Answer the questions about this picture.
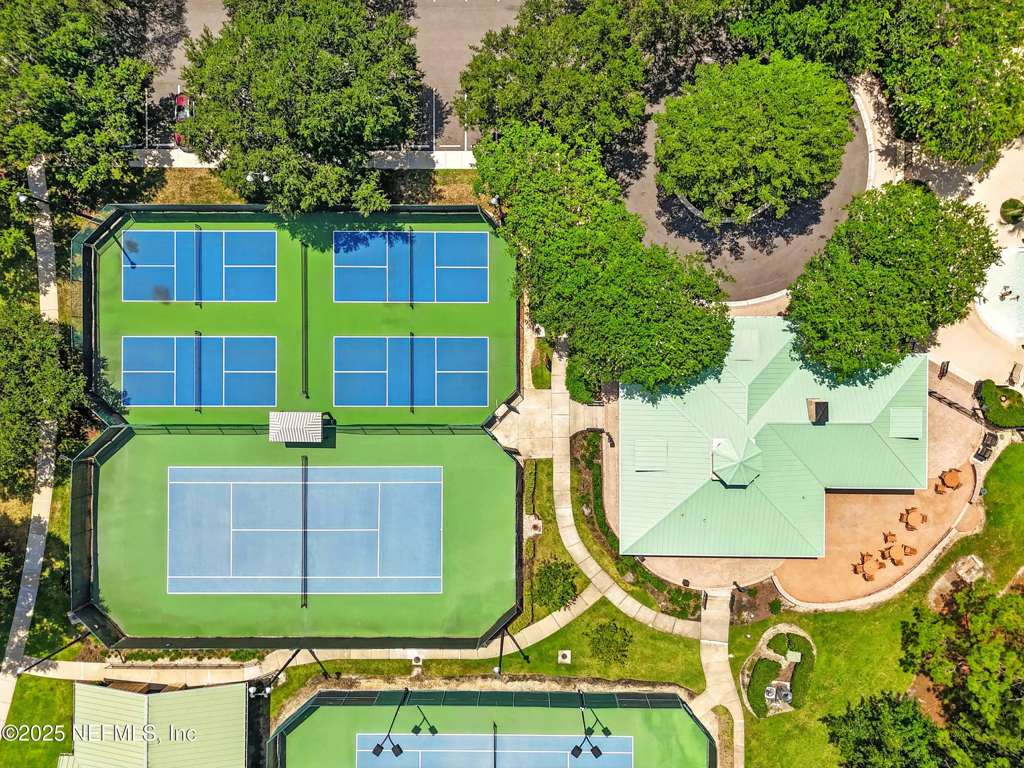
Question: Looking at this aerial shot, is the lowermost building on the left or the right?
left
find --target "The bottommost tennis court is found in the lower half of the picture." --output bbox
[279,703,707,768]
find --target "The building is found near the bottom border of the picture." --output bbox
[60,682,251,768]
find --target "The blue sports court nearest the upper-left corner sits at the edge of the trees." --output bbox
[122,230,277,302]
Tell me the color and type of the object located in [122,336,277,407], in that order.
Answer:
blue sports court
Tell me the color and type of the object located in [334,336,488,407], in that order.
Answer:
blue sports court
